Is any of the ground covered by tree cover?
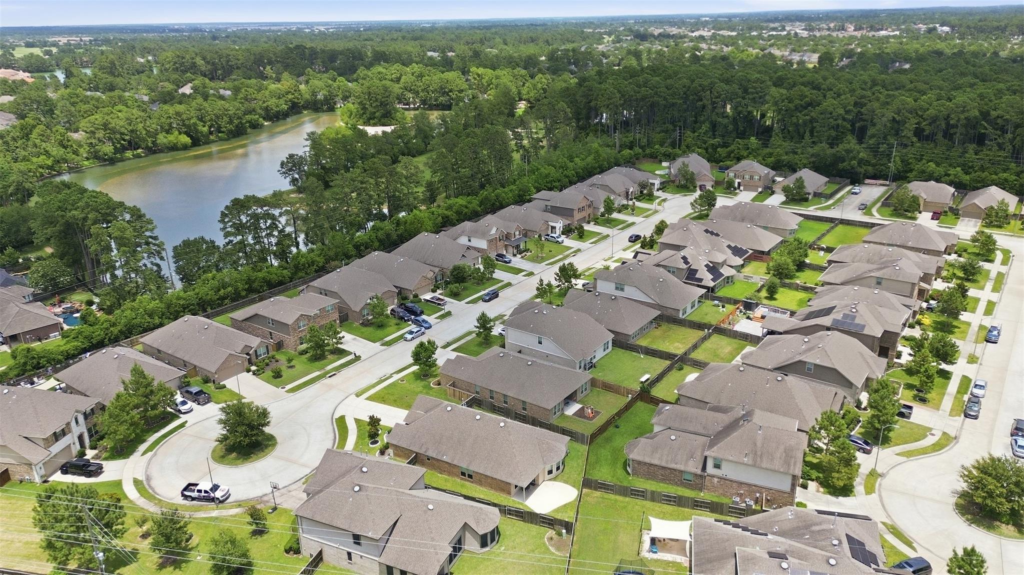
Yes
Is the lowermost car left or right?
right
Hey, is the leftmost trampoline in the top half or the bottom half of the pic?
bottom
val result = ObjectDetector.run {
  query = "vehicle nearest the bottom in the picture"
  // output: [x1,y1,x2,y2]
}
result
[885,549,937,575]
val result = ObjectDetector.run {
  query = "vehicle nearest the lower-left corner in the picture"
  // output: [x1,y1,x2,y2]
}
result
[56,453,103,474]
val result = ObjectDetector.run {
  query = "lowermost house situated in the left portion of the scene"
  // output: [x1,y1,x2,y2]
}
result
[292,450,501,575]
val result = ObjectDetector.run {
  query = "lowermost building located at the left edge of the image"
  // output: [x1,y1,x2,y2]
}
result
[0,388,106,481]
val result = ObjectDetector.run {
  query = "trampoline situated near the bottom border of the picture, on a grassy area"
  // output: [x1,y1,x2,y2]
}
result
[606,549,643,575]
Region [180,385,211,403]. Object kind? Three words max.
vehicle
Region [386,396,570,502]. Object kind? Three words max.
house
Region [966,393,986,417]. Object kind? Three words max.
car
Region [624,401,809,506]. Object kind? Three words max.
house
